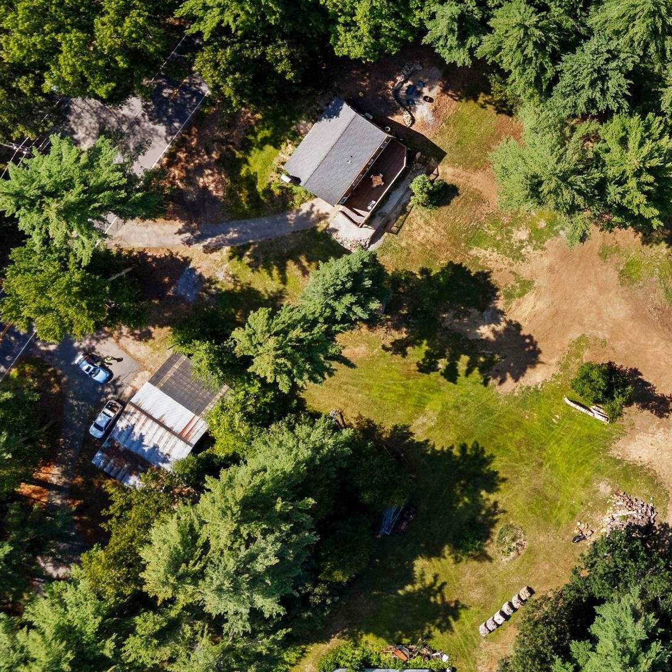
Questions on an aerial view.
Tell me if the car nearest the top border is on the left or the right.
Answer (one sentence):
The car nearest the top border appears in the left half of the scene.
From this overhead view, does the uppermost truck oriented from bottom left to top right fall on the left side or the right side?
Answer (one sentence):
The uppermost truck oriented from bottom left to top right appears in the left half of the scene.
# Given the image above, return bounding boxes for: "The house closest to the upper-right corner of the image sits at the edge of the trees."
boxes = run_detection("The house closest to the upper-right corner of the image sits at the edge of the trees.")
[285,96,412,228]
